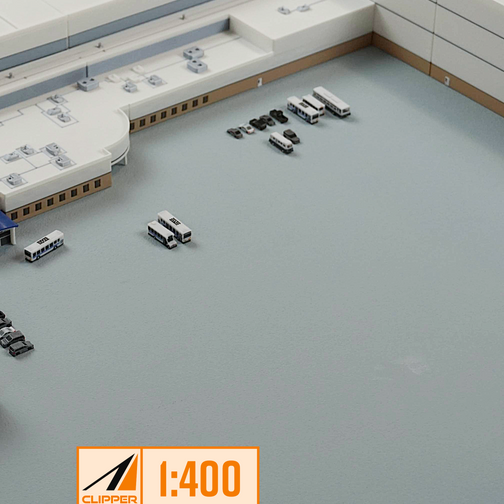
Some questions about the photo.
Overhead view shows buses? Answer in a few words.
Yes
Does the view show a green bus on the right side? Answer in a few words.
No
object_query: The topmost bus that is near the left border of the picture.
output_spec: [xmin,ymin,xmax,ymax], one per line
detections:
[24,230,65,260]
